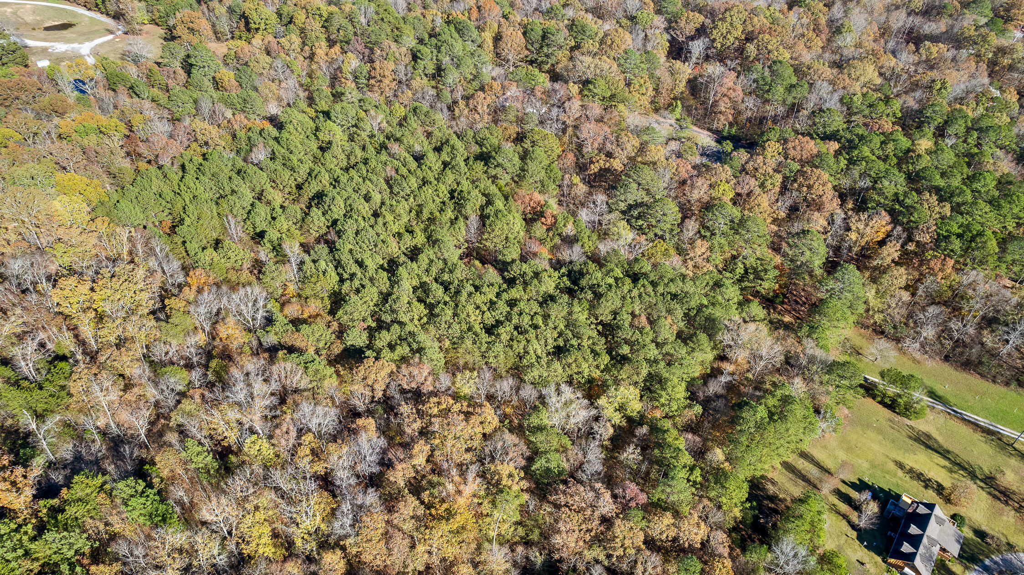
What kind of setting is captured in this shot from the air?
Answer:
forest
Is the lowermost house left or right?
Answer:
right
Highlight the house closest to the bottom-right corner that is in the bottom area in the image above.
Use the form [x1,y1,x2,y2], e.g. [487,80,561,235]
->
[880,493,966,575]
